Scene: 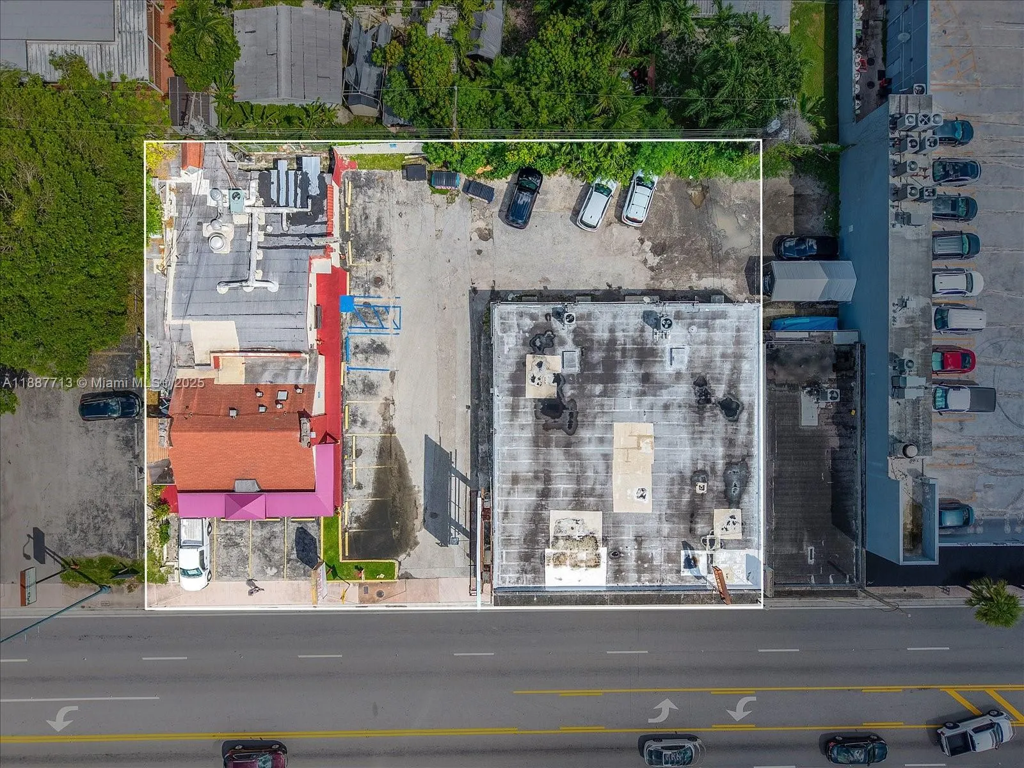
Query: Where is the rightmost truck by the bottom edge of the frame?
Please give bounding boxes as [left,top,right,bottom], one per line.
[934,709,1012,757]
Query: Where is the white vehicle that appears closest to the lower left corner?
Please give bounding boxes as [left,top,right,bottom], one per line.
[176,517,212,588]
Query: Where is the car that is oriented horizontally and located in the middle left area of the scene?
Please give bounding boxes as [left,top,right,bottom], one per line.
[78,390,147,421]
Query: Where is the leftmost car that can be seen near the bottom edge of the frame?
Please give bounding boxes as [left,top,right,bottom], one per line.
[224,737,290,768]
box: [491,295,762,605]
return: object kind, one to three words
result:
building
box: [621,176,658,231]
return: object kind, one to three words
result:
car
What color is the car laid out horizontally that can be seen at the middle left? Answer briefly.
black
